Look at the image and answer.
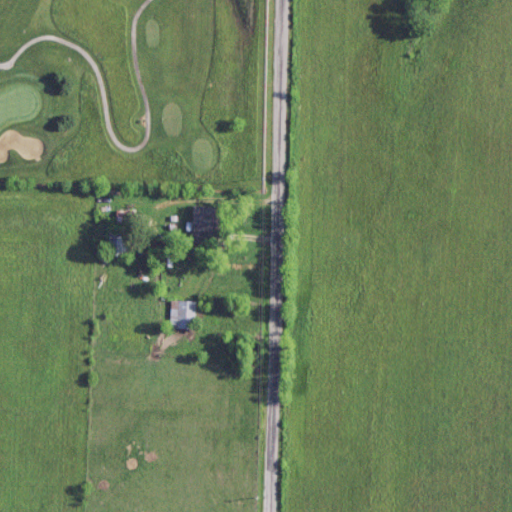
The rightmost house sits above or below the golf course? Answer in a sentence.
The rightmost house is below the golf course.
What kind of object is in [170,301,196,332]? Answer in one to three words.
barn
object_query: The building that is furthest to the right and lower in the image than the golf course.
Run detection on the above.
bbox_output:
[194,203,218,237]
